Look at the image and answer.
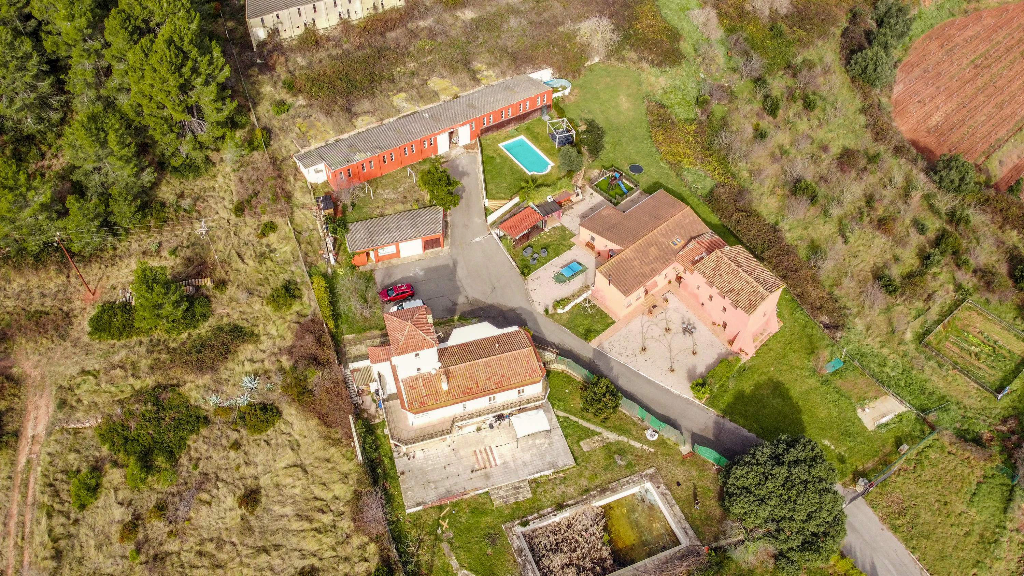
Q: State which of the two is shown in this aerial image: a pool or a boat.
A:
pool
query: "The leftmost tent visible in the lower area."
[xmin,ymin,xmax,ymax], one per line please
[509,408,551,441]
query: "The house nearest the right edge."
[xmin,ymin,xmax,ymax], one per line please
[577,188,789,359]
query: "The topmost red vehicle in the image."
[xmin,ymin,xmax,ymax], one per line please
[379,282,416,305]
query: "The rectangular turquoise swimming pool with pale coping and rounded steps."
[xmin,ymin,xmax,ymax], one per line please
[500,135,553,175]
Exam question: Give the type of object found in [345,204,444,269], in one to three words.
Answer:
building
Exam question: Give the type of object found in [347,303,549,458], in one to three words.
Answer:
house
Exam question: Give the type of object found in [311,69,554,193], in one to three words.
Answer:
building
